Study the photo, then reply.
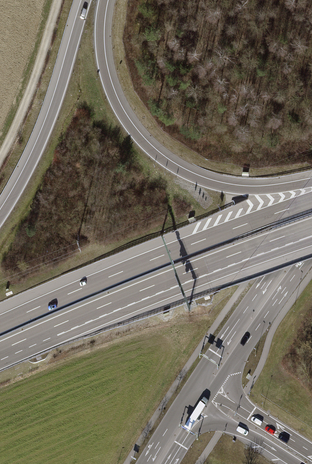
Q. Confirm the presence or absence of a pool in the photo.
No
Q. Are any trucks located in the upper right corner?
No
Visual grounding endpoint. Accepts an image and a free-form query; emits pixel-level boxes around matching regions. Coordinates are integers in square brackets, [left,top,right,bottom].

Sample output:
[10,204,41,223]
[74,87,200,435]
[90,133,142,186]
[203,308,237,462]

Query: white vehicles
[80,8,87,20]
[236,426,248,436]
[77,279,88,286]
[185,395,210,430]
[252,416,262,426]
